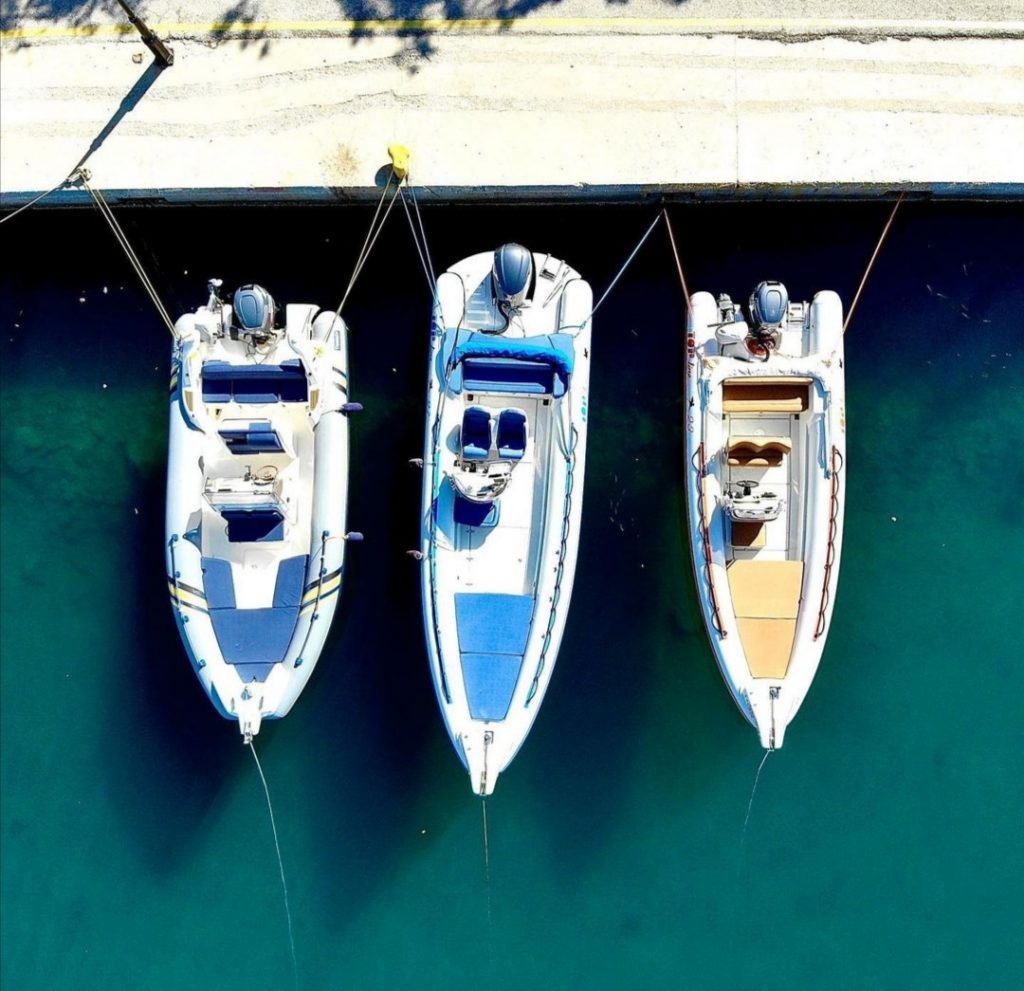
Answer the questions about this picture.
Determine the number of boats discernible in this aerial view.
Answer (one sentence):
The picture shows 3 boats.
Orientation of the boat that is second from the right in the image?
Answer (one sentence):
From this overhead view, the boat that is second from the right appears to run from top to bottom.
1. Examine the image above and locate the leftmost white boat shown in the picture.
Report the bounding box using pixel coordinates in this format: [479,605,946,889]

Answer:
[167,279,351,743]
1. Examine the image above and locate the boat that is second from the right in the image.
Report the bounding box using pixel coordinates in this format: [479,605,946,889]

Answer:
[419,246,594,797]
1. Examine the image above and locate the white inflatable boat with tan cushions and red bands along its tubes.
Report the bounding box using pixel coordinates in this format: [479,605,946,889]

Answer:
[682,282,847,751]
